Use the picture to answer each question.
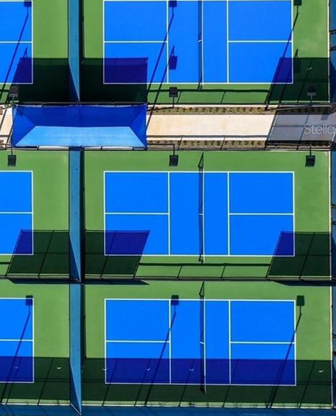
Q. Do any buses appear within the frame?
No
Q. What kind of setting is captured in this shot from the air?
sports ground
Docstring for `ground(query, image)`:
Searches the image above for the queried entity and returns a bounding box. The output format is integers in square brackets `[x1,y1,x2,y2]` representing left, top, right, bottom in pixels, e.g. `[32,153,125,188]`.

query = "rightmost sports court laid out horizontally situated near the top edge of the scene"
[81,0,328,102]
